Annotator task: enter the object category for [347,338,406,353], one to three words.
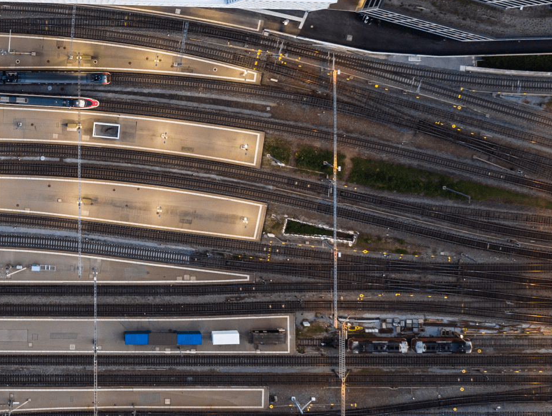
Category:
rail car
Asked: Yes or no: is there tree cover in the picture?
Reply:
No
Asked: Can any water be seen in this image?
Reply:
No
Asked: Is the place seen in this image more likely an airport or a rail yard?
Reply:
rail yard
